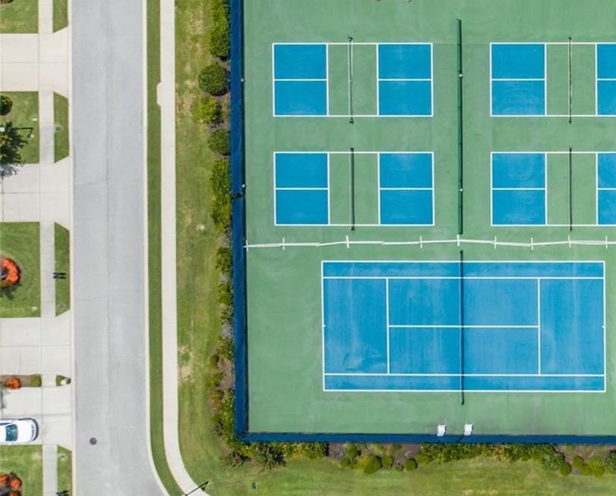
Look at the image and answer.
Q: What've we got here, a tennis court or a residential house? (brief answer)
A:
tennis court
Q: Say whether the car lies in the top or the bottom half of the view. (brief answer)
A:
bottom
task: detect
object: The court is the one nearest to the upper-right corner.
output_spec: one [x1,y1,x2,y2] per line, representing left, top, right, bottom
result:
[490,38,616,121]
